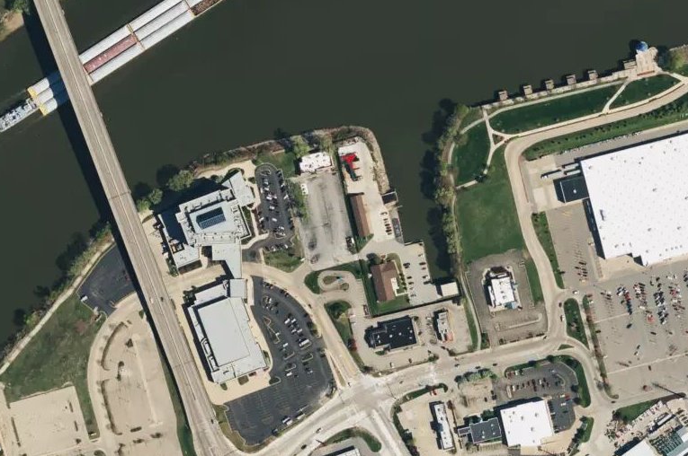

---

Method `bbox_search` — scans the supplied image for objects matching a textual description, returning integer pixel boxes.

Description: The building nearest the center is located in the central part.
[350,193,371,238]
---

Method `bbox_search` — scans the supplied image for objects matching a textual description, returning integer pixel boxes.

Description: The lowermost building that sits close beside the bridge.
[188,279,267,382]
